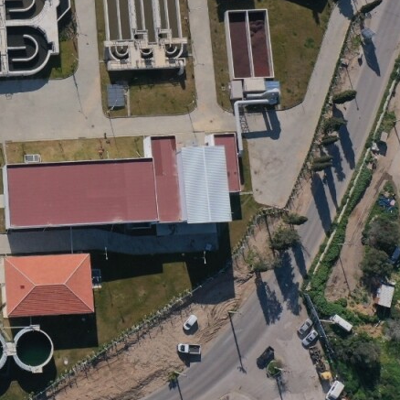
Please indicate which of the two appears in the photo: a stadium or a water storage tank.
water storage tank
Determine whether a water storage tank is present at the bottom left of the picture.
Yes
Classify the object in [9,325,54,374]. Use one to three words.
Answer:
water tank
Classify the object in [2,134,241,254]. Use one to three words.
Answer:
building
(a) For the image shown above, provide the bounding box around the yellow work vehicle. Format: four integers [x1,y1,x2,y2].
[318,369,336,383]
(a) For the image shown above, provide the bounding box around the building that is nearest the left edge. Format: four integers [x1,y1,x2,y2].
[0,254,101,317]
